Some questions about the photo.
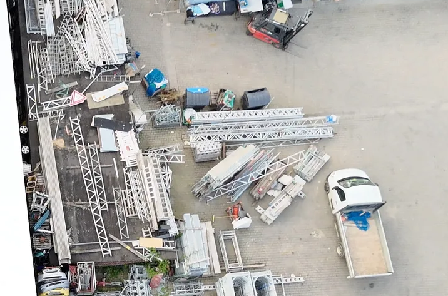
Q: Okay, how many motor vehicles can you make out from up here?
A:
2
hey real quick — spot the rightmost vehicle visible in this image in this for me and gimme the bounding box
[325,170,392,280]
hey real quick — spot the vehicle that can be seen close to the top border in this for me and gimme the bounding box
[257,2,313,47]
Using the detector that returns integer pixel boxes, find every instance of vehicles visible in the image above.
[325,170,392,280]
[257,2,313,47]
